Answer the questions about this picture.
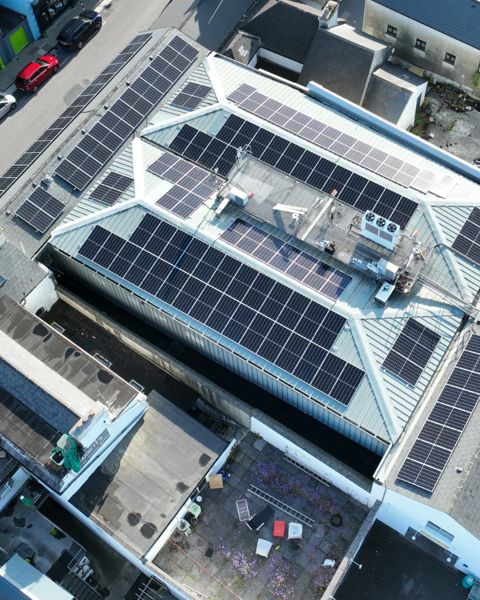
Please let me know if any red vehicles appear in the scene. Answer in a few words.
Yes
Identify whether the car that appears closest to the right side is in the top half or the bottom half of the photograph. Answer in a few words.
top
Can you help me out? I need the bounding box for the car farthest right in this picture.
[52,10,103,55]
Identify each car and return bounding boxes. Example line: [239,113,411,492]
[52,10,103,55]
[0,94,16,122]
[11,56,62,98]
